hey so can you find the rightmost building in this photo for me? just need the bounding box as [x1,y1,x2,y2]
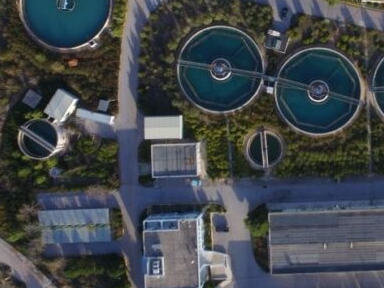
[268,204,384,275]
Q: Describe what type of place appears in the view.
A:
industrial area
